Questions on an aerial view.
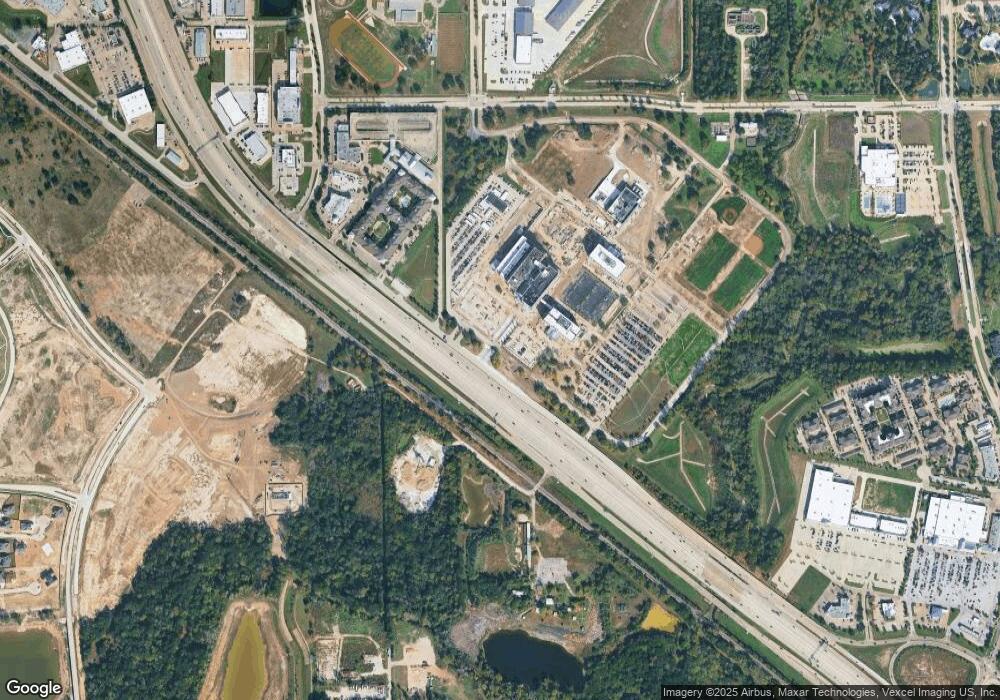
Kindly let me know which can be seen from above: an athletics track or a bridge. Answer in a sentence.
The image shows an athletics track.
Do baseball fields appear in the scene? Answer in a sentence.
Yes, this view includes a baseball field.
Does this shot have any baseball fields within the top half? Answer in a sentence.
Yes, a baseball field appears within the top half.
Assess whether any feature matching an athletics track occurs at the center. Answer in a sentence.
No, no athletics track appears at the center.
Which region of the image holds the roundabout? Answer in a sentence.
The roundabout sits in the bottom right section of the image.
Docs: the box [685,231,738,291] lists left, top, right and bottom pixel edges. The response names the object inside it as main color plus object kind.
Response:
green sports field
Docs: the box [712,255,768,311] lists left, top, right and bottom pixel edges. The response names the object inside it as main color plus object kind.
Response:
green sports field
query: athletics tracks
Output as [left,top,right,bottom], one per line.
[329,18,397,86]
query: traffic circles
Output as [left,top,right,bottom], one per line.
[889,640,979,700]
